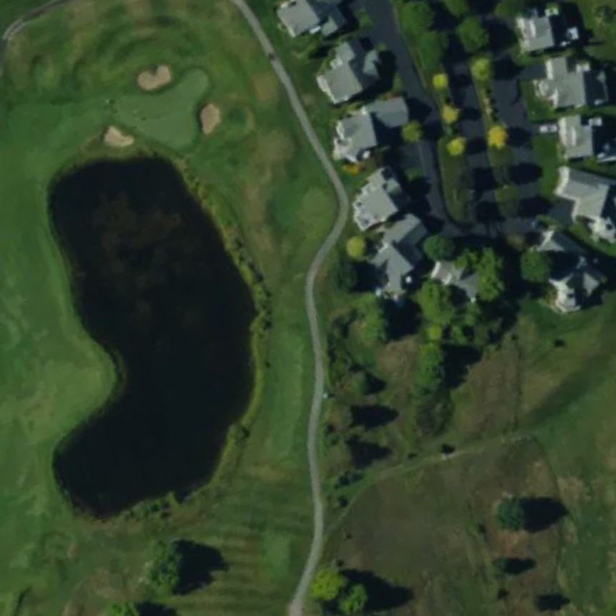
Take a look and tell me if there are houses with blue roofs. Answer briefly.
No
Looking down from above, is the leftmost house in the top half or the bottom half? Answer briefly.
top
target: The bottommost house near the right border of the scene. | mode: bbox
[539,228,607,315]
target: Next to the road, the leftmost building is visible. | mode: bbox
[277,0,352,51]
